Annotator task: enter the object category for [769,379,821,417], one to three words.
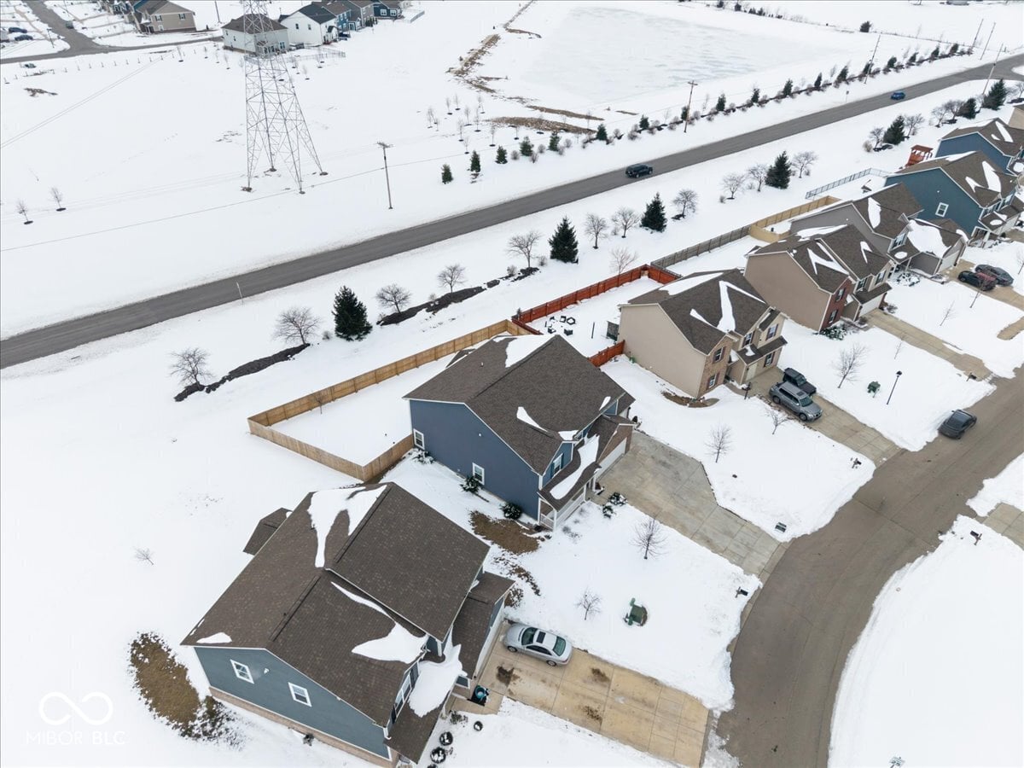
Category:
car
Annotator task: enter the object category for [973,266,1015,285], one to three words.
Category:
car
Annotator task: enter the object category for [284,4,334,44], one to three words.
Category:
house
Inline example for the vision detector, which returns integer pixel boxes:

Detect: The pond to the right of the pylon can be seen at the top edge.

[507,6,855,105]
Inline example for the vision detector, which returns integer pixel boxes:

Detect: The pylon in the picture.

[238,0,324,193]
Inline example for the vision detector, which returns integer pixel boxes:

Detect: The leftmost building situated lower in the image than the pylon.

[176,482,518,768]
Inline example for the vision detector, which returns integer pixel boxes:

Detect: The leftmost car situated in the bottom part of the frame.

[501,622,573,667]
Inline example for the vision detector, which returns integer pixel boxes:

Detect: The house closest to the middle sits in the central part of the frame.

[400,333,642,534]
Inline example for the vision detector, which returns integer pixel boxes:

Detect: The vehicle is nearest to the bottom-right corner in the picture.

[937,410,975,439]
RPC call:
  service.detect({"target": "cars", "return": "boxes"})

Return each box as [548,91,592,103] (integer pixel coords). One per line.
[937,410,975,439]
[626,162,652,179]
[14,34,34,41]
[973,266,1015,285]
[12,26,27,33]
[955,271,999,291]
[334,31,349,39]
[65,21,74,28]
[776,362,822,398]
[890,92,906,101]
[769,379,821,417]
[501,622,573,667]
